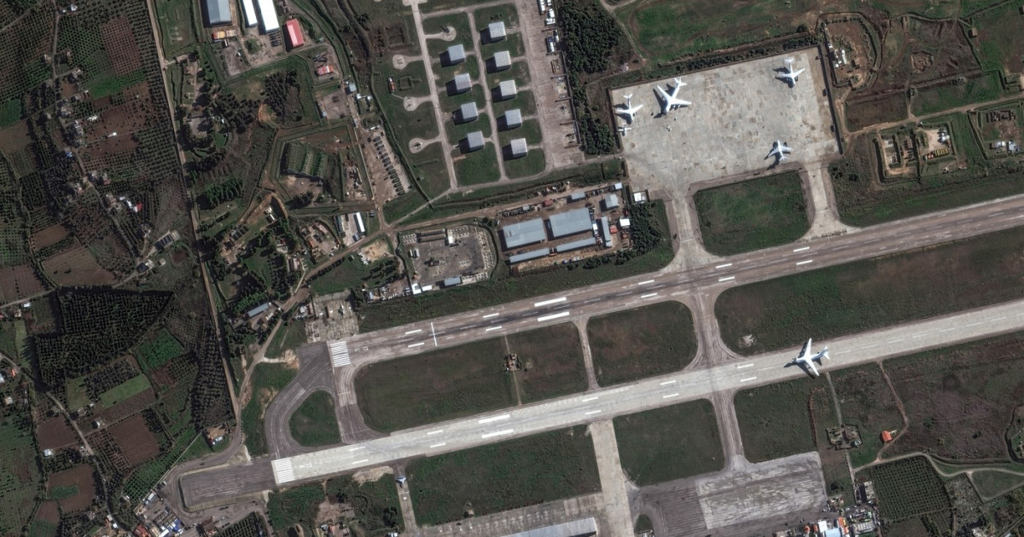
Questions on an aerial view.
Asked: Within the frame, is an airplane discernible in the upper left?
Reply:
No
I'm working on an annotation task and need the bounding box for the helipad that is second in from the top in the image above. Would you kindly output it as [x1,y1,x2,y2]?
[393,55,425,68]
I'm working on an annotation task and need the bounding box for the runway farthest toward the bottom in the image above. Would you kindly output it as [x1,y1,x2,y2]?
[271,299,1024,485]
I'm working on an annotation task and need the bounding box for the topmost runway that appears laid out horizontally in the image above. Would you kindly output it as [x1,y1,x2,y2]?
[327,196,1024,371]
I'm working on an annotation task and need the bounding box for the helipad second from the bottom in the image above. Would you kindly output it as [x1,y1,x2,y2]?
[404,94,433,109]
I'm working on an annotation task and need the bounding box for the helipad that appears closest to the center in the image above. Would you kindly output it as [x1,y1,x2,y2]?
[409,135,442,152]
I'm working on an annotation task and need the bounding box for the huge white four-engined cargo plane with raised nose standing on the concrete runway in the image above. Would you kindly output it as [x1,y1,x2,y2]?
[794,337,830,374]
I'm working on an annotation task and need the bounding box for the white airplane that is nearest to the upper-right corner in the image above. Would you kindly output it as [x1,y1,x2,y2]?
[779,57,804,86]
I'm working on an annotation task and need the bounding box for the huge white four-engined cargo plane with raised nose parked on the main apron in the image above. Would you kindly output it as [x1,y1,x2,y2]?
[657,78,692,115]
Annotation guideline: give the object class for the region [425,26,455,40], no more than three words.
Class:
helipad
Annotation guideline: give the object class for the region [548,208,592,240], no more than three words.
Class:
building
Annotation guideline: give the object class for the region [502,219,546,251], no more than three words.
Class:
building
